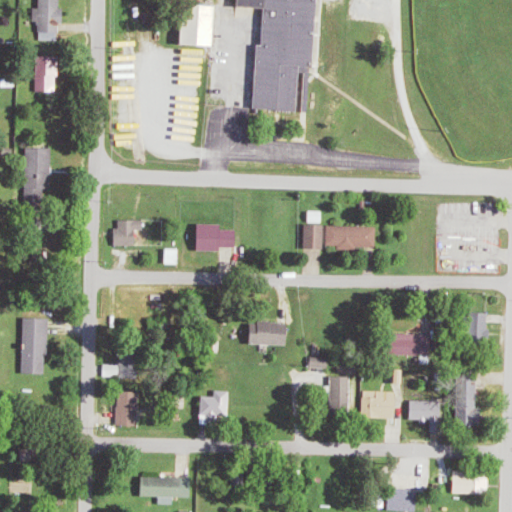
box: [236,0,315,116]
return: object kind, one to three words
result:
building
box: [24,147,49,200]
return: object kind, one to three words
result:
house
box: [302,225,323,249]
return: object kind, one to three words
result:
building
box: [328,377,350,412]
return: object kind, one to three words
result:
house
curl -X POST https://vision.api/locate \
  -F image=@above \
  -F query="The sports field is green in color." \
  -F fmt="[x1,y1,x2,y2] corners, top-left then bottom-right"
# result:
[412,0,512,162]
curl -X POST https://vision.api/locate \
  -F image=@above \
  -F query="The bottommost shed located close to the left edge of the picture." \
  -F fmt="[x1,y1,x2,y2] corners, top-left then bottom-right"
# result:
[8,482,32,495]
